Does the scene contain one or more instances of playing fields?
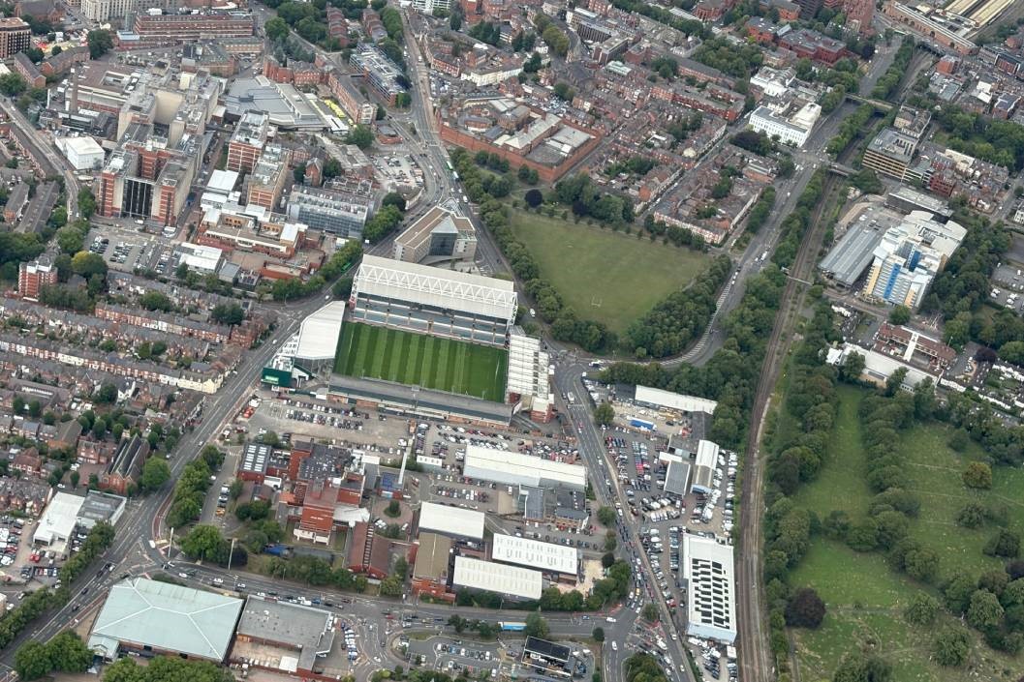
Yes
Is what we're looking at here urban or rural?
urban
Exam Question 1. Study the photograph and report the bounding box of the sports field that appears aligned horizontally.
[332,321,509,404]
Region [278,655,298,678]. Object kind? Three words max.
shed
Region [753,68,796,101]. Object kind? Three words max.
house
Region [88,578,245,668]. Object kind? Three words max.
building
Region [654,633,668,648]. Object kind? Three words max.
vehicle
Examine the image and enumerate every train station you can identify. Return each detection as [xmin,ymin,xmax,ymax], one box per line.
[880,0,977,54]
